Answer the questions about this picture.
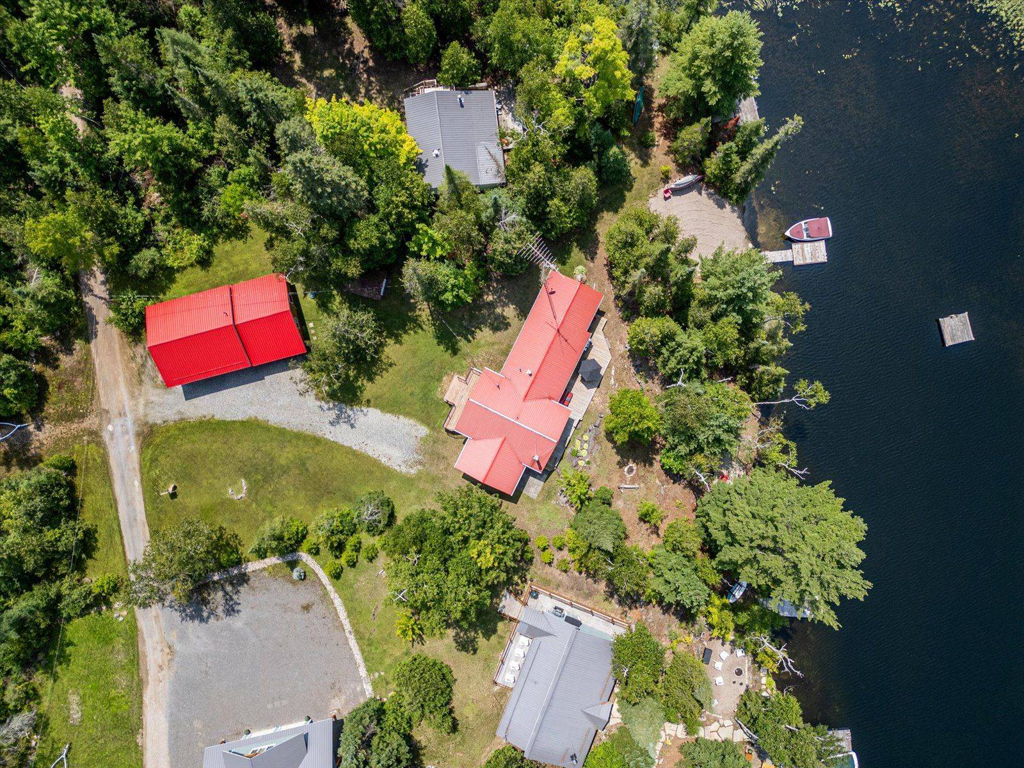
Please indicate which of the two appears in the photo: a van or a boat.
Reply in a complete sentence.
It is a boat that can be seen here.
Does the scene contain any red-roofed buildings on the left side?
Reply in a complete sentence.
Yes, a red-roofed building appears on the left side.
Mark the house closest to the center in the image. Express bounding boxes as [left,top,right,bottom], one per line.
[455,270,603,496]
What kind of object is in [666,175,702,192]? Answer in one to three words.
boat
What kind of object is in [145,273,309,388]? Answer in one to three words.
building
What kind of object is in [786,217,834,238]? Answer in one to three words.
boat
